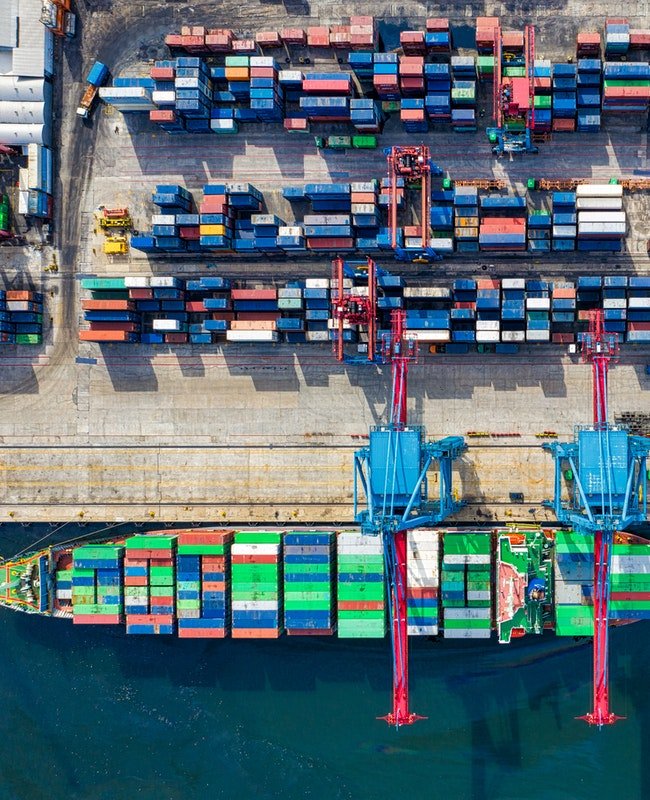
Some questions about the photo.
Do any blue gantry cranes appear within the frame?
Yes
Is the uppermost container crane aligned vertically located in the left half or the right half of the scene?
right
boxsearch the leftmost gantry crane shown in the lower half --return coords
[350,307,468,728]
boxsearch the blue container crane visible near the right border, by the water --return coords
[541,308,650,729]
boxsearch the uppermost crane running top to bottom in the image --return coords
[489,23,541,152]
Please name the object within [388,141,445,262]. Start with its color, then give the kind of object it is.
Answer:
red container crane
